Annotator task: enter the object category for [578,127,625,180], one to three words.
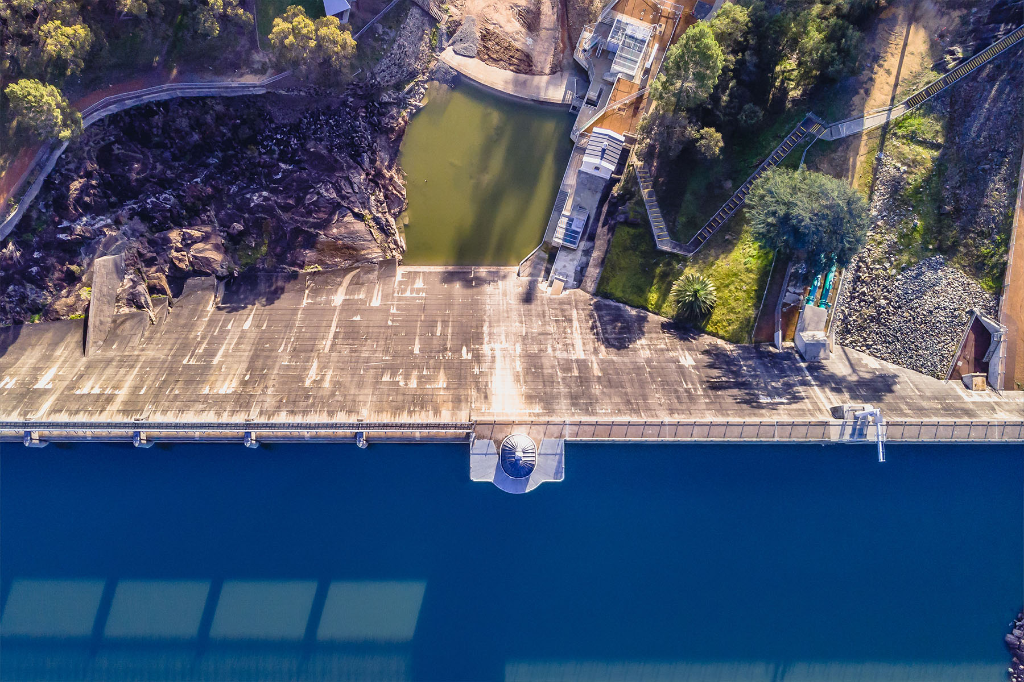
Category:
building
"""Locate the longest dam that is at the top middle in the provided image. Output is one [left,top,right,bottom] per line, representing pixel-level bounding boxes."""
[440,47,571,109]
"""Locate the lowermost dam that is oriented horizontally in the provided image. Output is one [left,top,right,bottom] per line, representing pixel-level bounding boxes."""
[0,255,1024,448]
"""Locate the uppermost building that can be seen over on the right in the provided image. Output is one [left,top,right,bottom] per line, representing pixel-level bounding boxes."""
[604,16,653,81]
